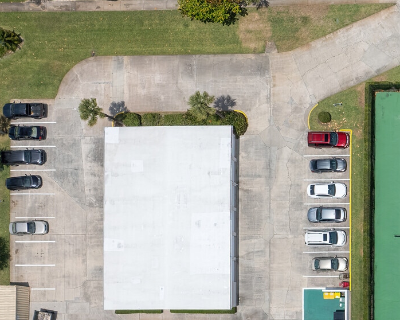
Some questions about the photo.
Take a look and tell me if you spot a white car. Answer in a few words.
Yes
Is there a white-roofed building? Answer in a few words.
Yes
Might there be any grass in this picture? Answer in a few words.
Yes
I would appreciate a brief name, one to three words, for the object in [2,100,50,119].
vehicle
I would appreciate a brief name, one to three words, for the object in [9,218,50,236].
car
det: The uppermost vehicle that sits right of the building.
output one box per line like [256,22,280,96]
[307,128,350,148]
